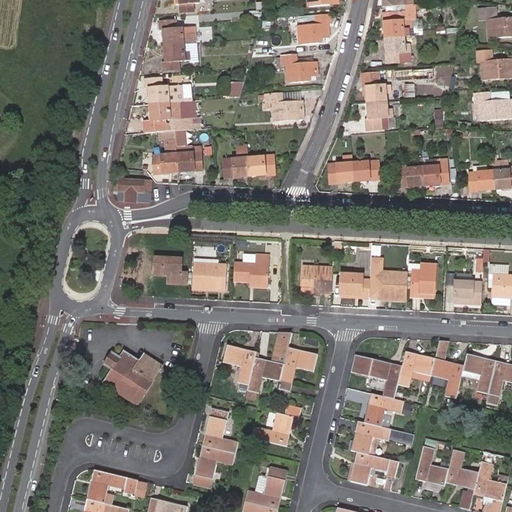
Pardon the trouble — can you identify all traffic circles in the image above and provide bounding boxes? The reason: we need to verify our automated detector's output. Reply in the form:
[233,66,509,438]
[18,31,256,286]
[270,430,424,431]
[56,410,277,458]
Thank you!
[50,199,127,322]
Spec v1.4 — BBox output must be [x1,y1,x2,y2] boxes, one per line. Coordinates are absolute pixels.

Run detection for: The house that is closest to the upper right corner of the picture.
[478,7,512,38]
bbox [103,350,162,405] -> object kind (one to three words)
building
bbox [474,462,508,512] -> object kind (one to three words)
house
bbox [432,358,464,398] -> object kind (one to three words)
house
